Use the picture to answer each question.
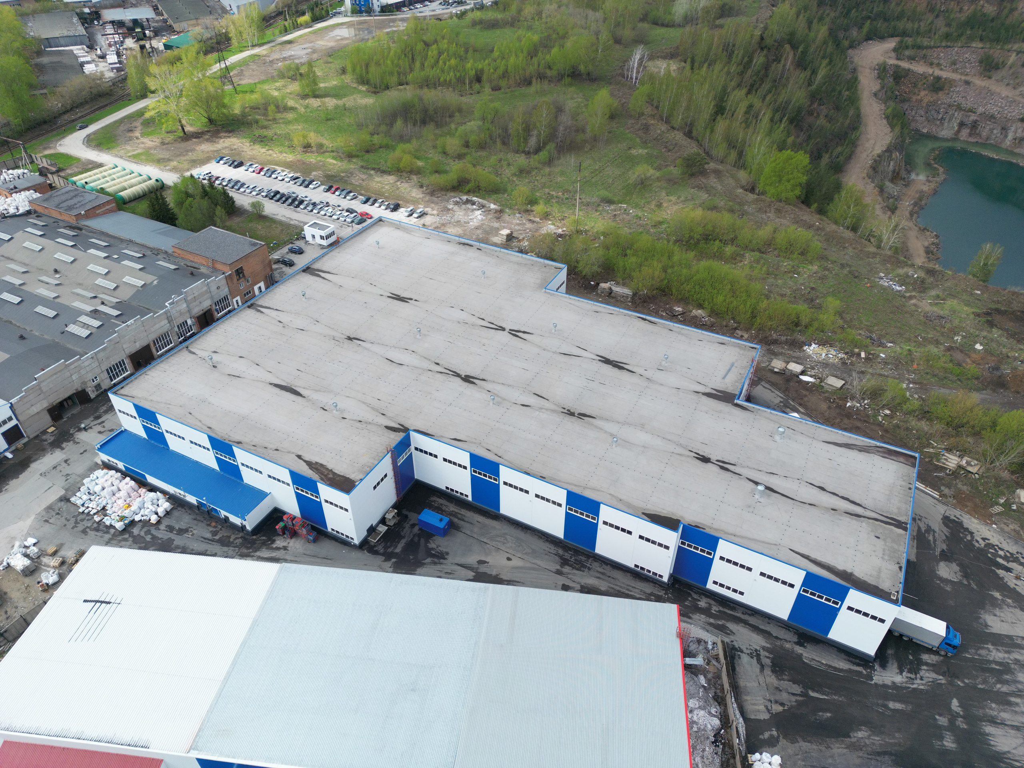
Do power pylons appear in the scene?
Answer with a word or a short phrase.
Yes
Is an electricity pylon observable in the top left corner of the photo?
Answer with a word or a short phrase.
Yes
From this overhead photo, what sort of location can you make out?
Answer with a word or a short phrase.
industrial area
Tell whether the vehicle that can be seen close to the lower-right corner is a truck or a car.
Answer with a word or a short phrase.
truck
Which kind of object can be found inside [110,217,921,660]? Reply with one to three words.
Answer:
warehouse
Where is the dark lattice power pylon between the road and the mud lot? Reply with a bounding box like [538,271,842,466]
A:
[213,32,242,93]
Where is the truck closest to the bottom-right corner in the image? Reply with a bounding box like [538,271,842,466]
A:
[888,606,967,659]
